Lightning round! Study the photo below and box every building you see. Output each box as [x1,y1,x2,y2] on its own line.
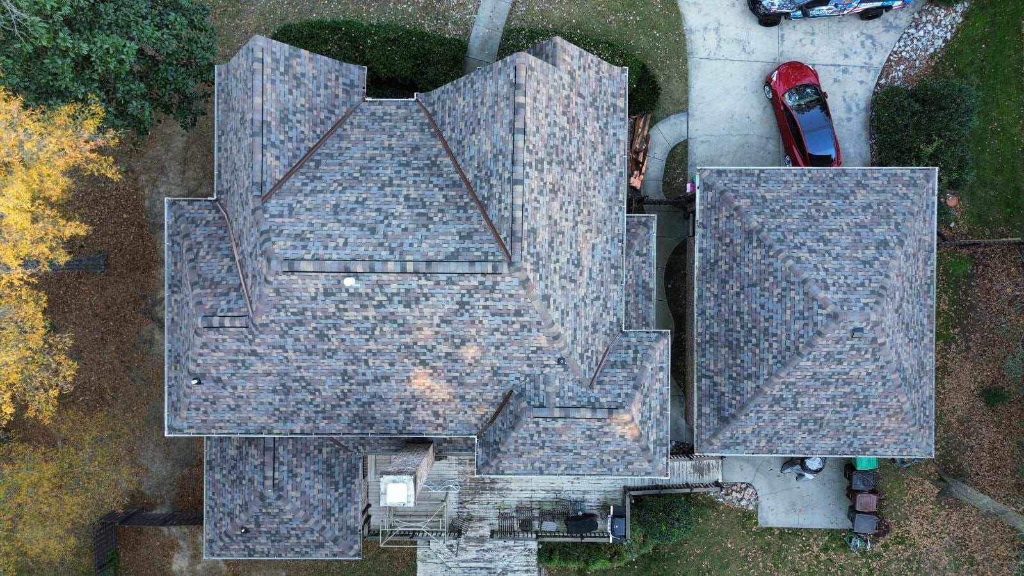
[688,167,937,457]
[165,34,670,558]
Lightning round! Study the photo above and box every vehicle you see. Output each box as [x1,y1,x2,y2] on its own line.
[760,53,844,168]
[743,0,915,26]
